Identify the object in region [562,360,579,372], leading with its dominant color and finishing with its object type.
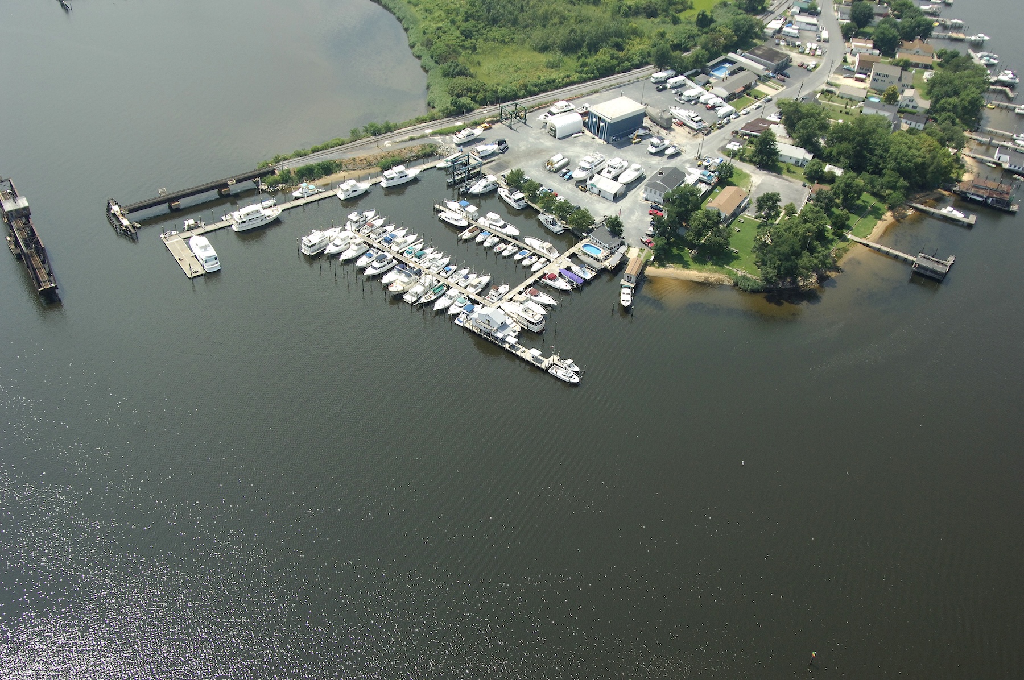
white boat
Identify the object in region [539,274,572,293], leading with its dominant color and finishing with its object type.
white boat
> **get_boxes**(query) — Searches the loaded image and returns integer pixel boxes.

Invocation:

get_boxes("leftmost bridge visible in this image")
[0,178,63,304]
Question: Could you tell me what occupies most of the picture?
water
